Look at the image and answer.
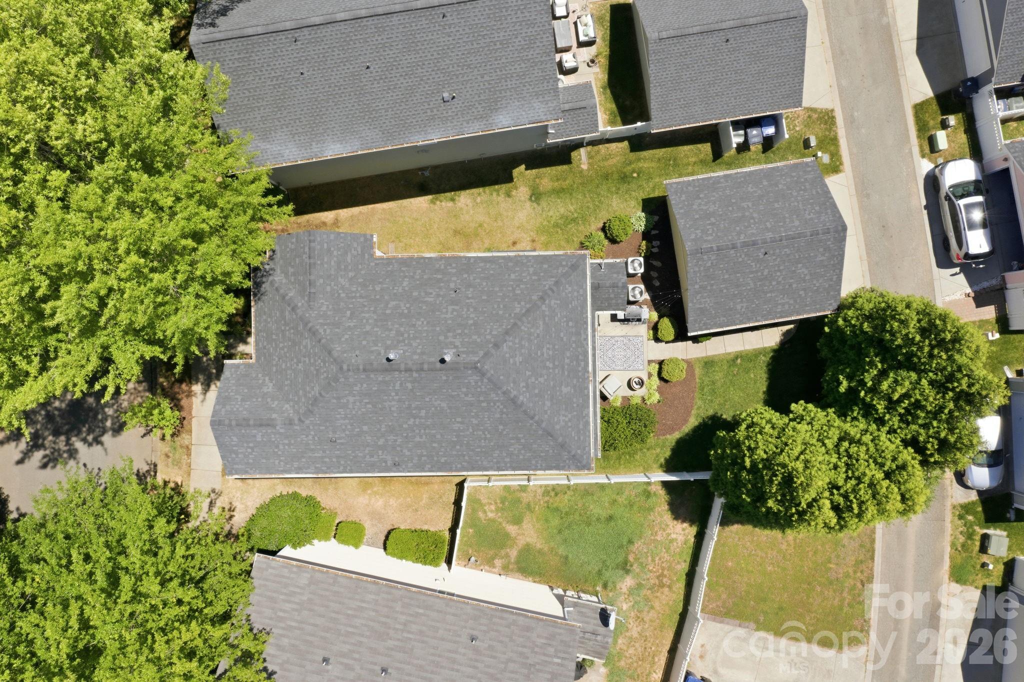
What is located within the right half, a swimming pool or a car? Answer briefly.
car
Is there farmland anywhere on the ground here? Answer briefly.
No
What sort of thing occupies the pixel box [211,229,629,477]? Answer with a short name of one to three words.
house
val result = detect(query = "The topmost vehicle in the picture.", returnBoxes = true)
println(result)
[930,160,997,263]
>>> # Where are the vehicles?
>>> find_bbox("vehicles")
[956,406,1009,491]
[930,160,997,263]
